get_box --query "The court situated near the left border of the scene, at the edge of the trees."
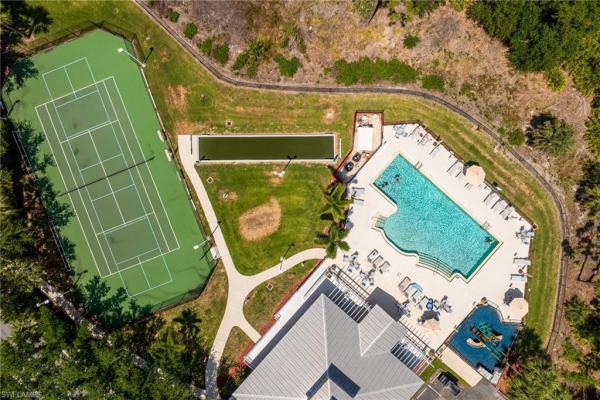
[3,29,213,325]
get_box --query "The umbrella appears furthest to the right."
[504,298,527,319]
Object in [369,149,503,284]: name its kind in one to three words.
swimming pool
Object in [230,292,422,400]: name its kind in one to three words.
building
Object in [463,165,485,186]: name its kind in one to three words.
umbrella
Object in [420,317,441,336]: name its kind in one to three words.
umbrella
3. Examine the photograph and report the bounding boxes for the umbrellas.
[420,317,441,336]
[504,298,527,319]
[463,165,485,186]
